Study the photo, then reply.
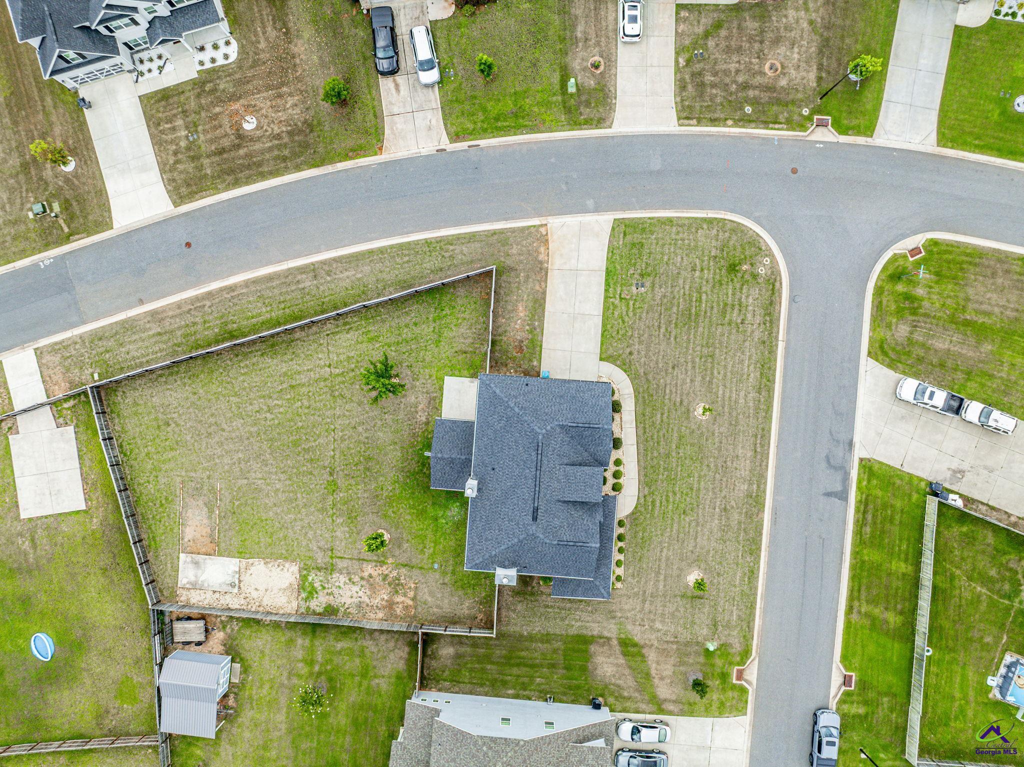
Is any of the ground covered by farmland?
No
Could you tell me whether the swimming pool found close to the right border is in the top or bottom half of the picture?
bottom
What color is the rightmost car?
white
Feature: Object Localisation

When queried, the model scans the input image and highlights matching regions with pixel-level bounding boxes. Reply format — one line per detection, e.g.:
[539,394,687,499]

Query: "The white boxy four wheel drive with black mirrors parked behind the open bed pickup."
[962,400,1021,437]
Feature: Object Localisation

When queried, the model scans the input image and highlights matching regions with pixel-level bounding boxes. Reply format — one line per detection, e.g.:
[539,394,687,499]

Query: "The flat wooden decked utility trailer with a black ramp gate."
[159,615,217,646]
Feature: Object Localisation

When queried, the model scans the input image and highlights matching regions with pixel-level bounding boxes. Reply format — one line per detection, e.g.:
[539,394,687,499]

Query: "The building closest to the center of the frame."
[424,372,619,601]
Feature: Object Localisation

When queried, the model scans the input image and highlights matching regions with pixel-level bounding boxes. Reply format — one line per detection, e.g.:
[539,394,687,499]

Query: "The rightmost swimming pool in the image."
[982,645,1024,712]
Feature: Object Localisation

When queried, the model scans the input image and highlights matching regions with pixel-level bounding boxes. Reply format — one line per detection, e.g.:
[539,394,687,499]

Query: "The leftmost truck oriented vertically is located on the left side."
[370,7,400,77]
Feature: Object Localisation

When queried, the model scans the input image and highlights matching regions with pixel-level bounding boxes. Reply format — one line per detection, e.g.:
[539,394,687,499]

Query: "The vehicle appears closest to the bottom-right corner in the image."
[809,707,841,767]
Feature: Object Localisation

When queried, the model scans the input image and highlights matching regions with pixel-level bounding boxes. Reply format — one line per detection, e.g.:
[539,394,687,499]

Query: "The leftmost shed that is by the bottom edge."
[154,650,232,739]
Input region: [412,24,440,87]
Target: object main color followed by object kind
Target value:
white car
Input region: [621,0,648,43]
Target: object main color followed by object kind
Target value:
white car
